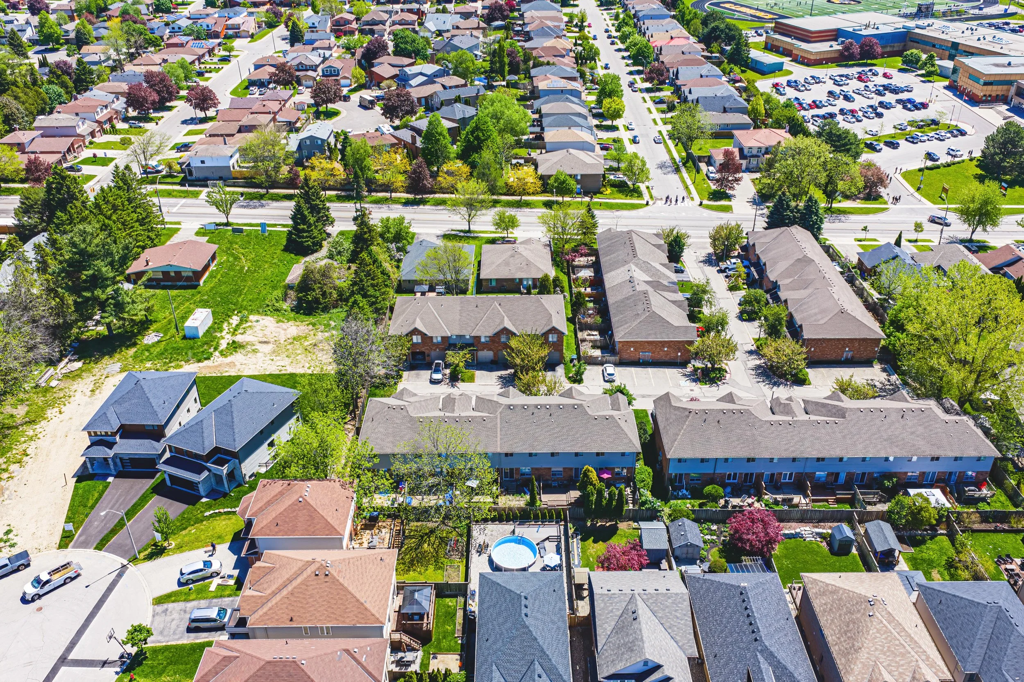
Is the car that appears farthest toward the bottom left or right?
left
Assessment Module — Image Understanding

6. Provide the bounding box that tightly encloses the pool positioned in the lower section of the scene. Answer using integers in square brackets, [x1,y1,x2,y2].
[490,528,539,572]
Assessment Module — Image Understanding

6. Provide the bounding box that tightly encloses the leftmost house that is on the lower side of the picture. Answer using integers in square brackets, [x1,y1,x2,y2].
[81,371,196,475]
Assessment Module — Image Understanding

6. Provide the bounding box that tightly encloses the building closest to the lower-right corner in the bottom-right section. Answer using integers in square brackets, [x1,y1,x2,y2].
[913,580,1024,682]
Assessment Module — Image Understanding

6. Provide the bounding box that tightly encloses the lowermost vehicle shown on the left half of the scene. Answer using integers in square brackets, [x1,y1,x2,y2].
[184,609,227,636]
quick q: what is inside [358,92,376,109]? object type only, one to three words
camper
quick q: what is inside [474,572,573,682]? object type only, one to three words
house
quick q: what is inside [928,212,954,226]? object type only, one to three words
car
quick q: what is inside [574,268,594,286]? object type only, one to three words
gazebo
